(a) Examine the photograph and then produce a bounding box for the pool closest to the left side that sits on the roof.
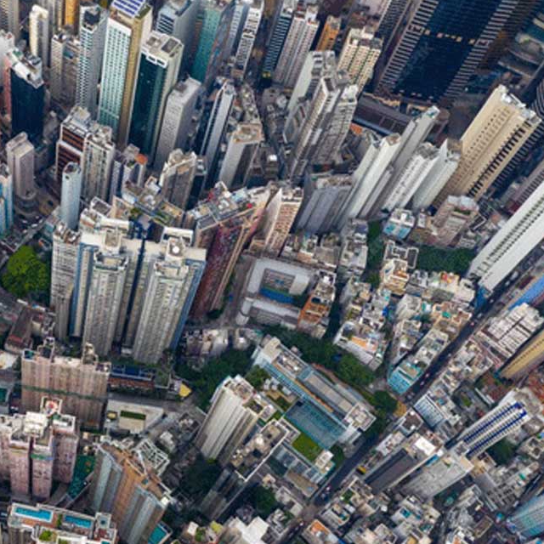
[11,503,46,518]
